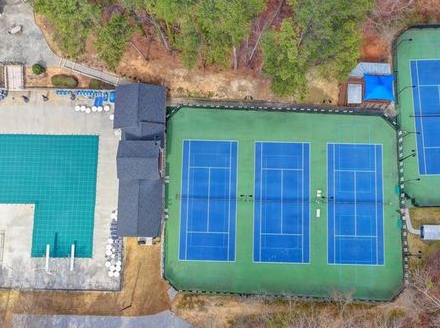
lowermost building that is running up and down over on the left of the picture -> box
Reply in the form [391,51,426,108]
[114,82,166,236]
